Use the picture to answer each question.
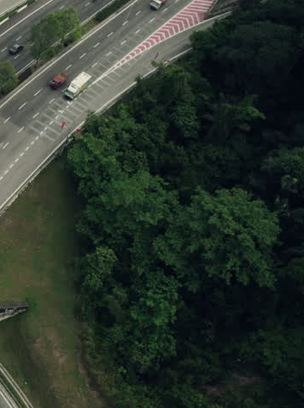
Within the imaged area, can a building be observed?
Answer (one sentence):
No, the picture doesn't show any building.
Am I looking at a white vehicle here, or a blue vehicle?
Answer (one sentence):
This aerial view contains a white vehicle.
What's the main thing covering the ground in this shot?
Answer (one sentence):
The bulk of the photo consists of trees.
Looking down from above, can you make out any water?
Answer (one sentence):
No, there's no water in this view.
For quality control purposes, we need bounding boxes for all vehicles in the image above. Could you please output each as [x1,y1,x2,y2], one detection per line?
[64,68,93,99]
[5,41,26,57]
[45,71,70,90]
[149,0,169,12]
